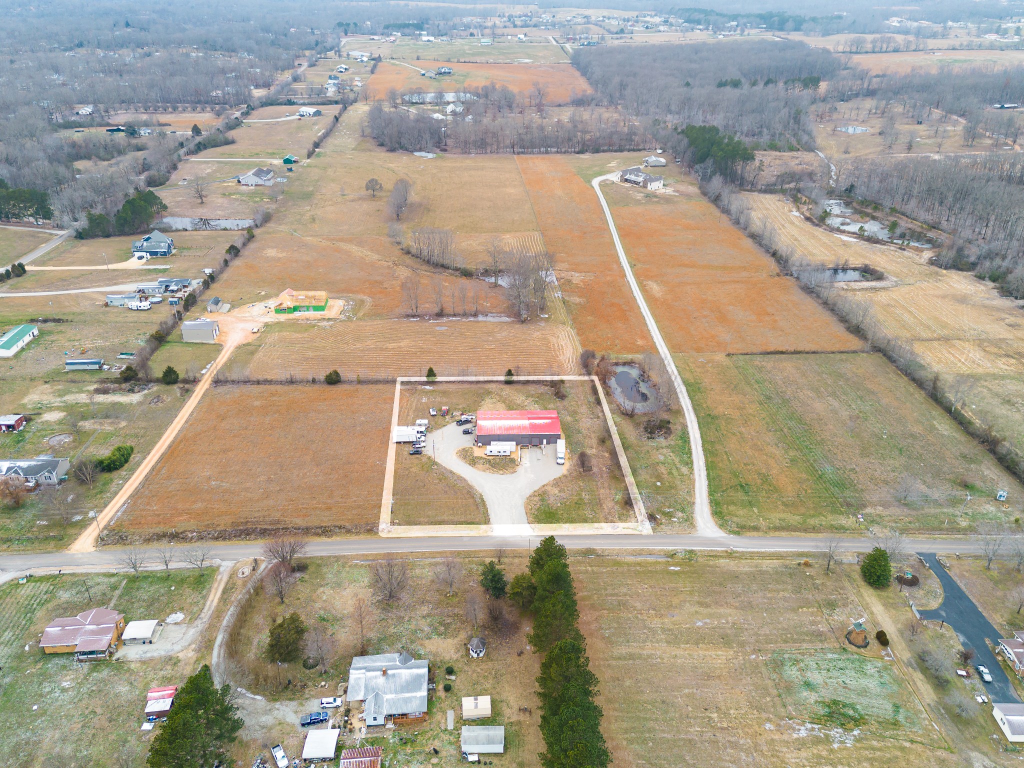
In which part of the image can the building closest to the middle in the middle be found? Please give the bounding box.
[476,408,563,446]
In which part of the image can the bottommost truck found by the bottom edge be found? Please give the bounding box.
[268,738,291,768]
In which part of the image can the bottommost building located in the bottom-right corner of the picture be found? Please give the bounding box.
[984,694,1024,743]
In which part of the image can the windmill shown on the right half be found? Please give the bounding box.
[845,621,873,651]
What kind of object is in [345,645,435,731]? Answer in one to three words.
house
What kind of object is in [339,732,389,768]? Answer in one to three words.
shed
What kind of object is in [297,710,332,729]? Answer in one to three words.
vehicle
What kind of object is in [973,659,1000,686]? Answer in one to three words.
truck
